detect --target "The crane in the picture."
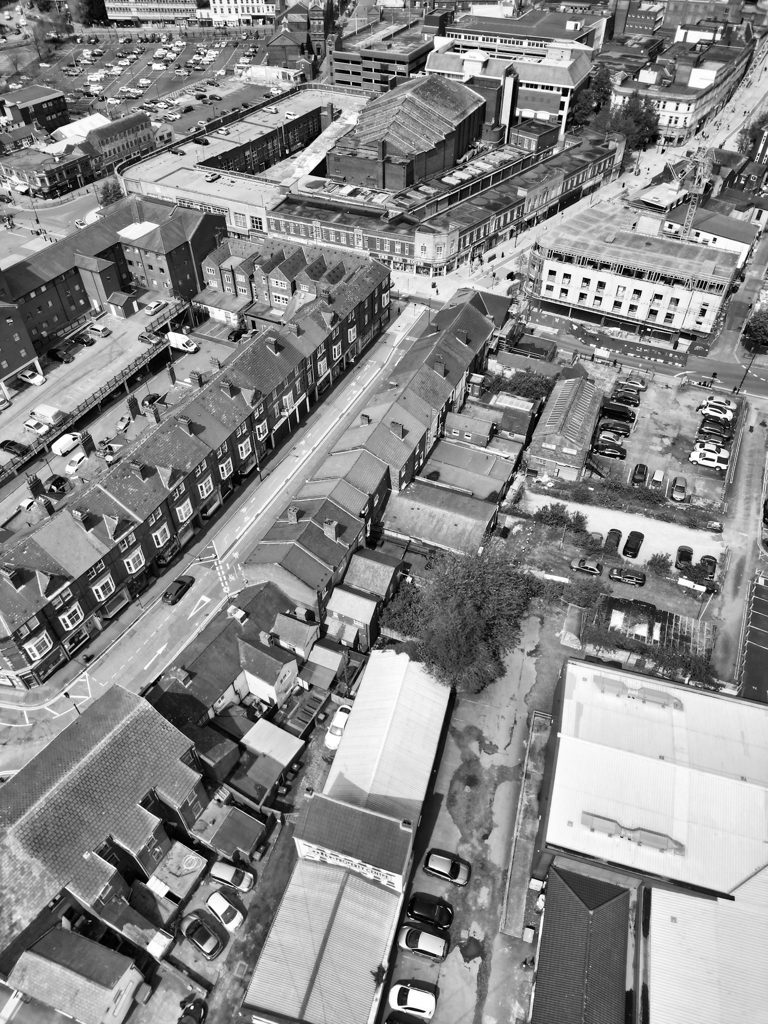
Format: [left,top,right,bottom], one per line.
[674,80,768,240]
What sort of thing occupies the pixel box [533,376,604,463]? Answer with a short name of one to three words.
building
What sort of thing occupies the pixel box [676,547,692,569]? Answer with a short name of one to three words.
car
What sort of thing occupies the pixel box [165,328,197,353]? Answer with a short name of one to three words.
vehicle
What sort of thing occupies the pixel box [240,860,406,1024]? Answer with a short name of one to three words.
shed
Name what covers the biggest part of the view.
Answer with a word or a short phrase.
buildings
